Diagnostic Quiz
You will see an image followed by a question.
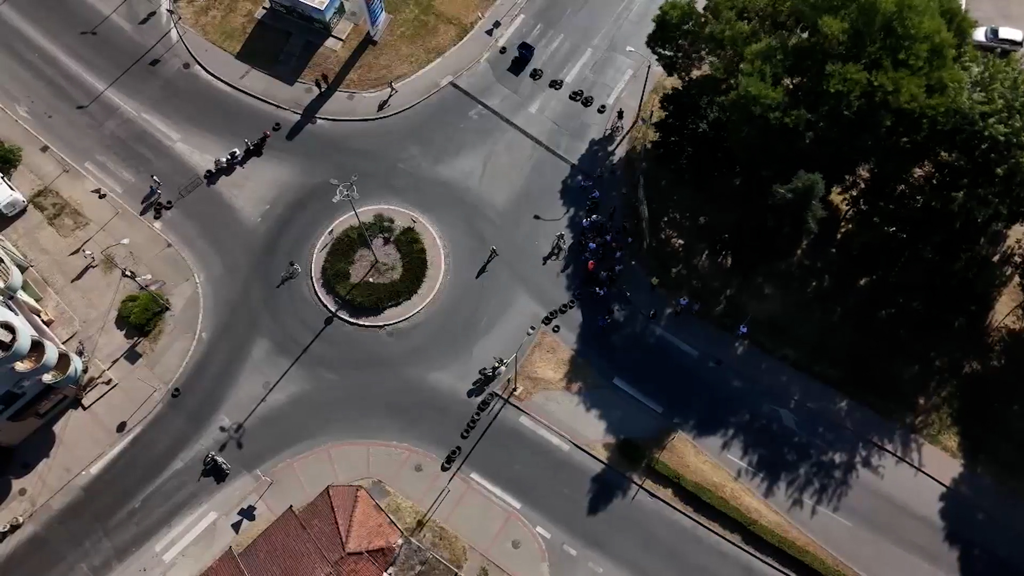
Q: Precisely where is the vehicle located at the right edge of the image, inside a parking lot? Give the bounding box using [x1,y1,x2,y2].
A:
[979,24,1024,54]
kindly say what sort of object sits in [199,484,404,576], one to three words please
house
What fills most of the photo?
paved ground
